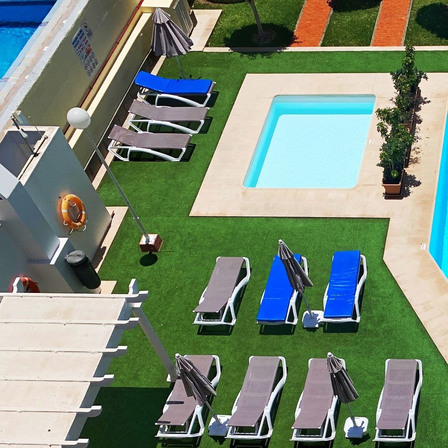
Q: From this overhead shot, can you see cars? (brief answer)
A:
No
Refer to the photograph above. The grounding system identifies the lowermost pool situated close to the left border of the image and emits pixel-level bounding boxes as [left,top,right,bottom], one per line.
[0,3,54,77]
